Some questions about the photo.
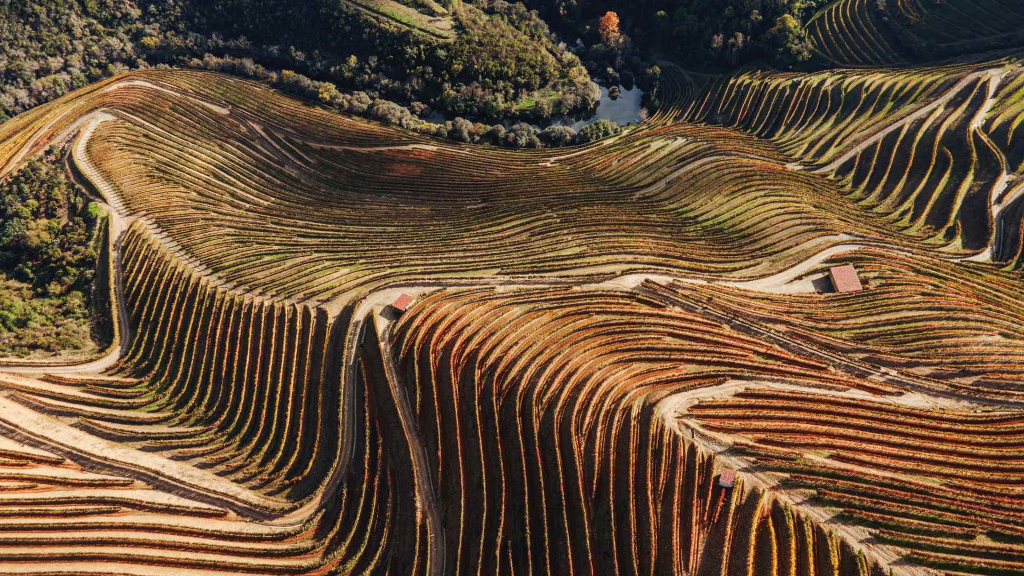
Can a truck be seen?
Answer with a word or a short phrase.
No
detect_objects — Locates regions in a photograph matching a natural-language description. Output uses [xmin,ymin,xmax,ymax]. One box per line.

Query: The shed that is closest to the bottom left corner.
[393,292,414,313]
